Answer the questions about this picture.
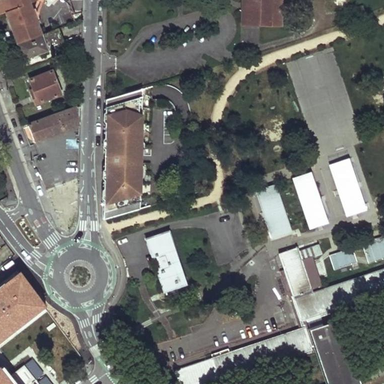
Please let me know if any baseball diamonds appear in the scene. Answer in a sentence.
No, the photo shows no baseball diamond.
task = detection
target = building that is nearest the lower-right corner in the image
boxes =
[310,321,360,384]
